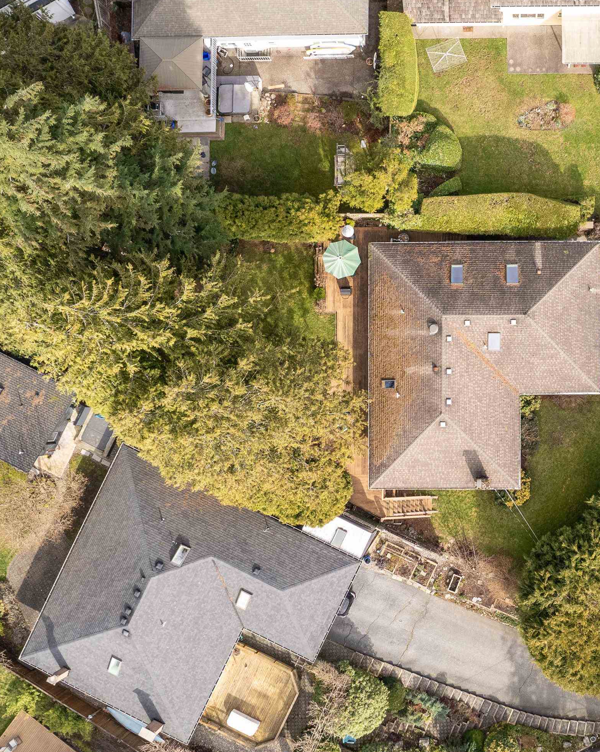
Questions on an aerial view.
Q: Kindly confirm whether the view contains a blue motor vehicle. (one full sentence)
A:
No, there's no blue motor vehicle here.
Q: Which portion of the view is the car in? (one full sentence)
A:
Look in the bottom portion of the view to spot the car.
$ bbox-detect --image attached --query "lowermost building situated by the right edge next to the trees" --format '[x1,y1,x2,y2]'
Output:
[368,241,600,490]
